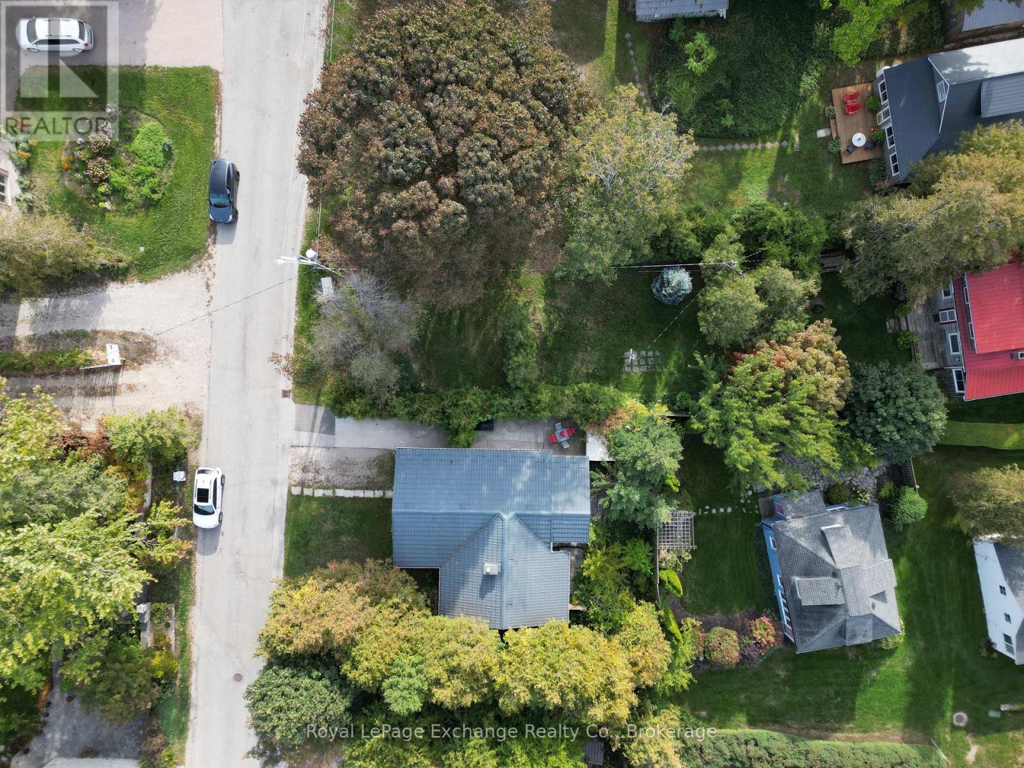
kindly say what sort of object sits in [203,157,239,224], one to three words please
car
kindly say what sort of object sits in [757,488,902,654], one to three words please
house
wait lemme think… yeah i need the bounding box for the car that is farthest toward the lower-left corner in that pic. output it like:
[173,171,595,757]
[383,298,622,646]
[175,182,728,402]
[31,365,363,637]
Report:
[189,467,225,530]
